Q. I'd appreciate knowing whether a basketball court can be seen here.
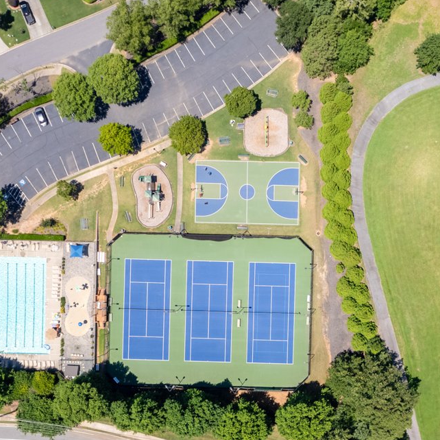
Yes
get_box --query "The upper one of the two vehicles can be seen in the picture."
[20,1,37,26]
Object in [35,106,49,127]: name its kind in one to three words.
vehicle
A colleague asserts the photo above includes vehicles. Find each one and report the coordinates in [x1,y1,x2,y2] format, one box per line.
[35,106,49,127]
[20,1,37,26]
